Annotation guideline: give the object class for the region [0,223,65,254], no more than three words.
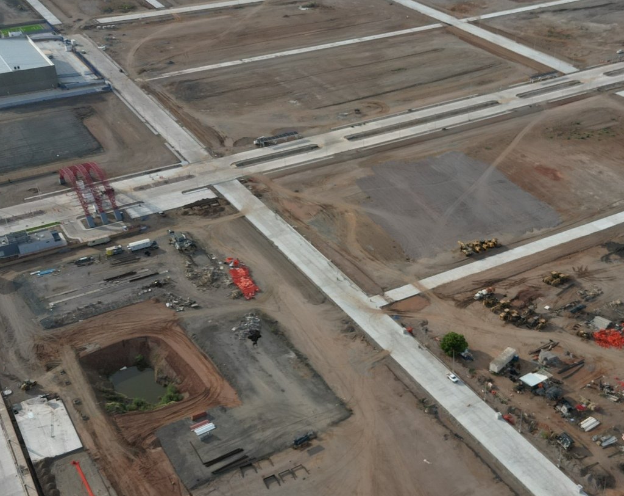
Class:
building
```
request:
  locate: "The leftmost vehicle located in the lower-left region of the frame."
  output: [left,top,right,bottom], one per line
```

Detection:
[17,377,38,391]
